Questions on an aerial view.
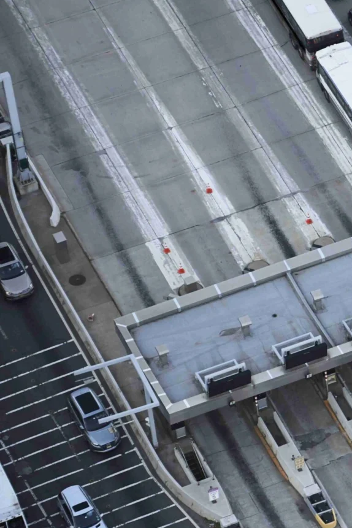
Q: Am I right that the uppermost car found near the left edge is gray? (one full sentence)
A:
Yes, the uppermost car found near the left edge is gray.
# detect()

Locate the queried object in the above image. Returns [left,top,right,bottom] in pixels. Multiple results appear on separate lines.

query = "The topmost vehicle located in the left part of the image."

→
[0,240,36,296]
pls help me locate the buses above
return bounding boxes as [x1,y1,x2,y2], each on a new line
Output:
[0,472,26,528]
[313,51,352,132]
[268,0,344,71]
